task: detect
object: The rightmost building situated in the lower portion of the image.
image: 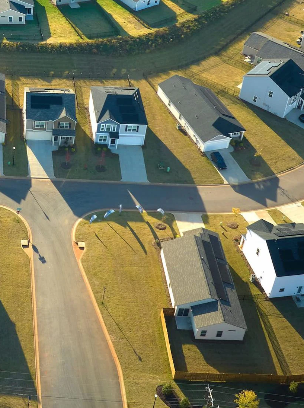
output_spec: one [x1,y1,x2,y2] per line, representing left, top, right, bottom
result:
[237,218,304,301]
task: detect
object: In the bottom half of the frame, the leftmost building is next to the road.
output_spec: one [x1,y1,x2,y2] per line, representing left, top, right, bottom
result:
[152,219,251,341]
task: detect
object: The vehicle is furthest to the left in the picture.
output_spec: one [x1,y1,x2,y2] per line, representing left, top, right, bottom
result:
[211,149,231,169]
